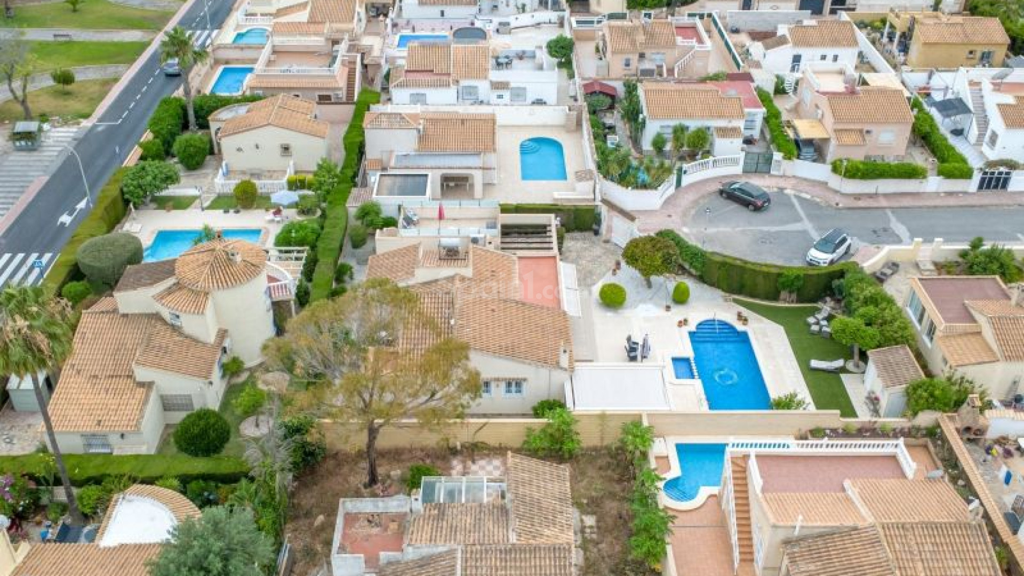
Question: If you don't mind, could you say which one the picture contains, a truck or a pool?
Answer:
pool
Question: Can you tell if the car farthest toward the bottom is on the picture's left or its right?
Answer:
right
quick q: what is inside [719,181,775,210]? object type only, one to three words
car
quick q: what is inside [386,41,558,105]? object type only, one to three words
house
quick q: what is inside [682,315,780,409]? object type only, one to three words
swimming pool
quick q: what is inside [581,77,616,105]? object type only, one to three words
building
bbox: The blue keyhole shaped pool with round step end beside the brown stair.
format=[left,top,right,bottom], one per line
[651,430,742,535]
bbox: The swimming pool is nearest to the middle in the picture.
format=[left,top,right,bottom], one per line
[520,136,568,179]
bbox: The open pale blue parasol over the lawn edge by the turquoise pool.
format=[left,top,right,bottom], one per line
[265,187,298,215]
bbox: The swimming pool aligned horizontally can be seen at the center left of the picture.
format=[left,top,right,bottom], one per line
[145,228,263,258]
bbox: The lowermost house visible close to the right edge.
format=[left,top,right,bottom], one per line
[720,435,1004,576]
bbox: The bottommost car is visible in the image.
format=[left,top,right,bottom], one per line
[808,226,855,264]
